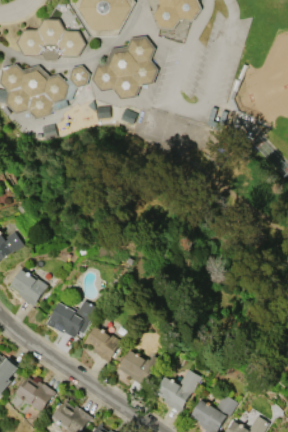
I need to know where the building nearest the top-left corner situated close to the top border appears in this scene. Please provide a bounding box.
[18,10,83,60]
